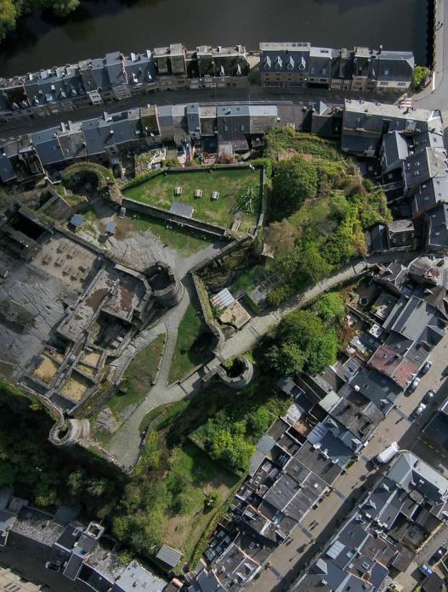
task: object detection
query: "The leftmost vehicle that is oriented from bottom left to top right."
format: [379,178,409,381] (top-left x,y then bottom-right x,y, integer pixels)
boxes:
[372,440,397,469]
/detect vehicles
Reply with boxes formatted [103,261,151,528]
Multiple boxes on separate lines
[372,440,397,469]
[407,374,422,393]
[412,401,427,418]
[418,564,431,575]
[429,546,446,566]
[423,386,437,404]
[420,359,434,377]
